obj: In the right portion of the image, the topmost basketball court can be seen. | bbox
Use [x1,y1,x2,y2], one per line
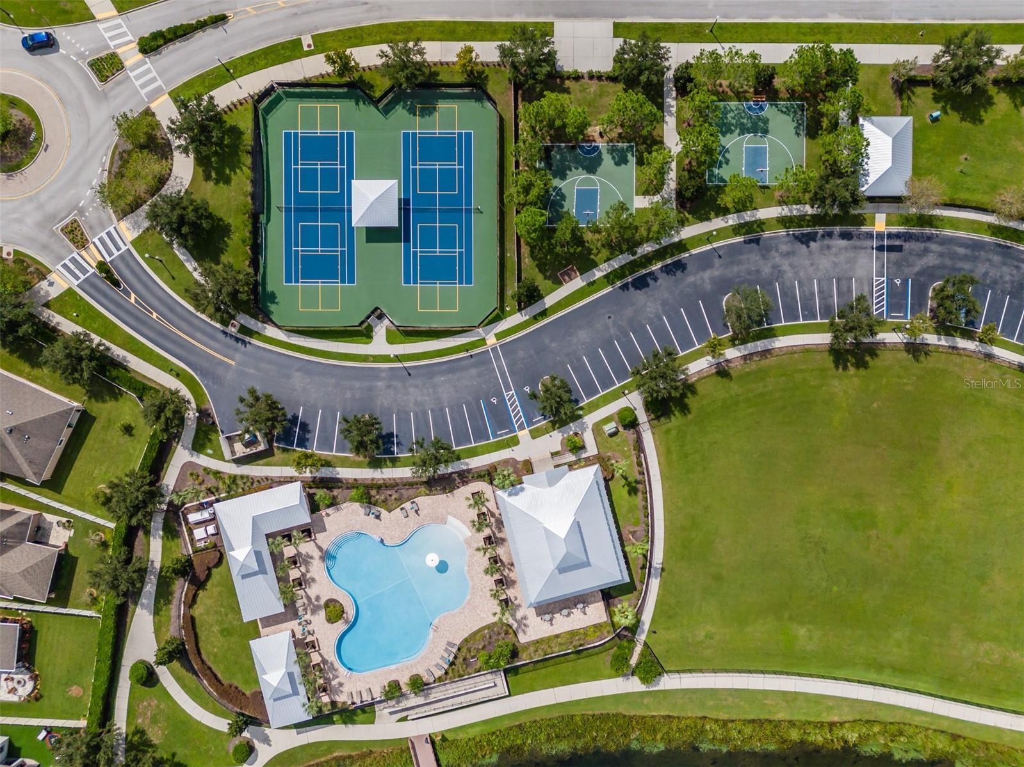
[706,102,805,184]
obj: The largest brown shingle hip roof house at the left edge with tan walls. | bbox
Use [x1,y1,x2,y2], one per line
[0,368,85,485]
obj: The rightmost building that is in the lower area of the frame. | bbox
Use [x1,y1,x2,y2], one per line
[496,464,630,608]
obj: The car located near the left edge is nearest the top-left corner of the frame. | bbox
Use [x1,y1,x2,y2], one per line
[21,31,54,50]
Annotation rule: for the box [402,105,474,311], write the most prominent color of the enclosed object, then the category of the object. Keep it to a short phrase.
blue tennis court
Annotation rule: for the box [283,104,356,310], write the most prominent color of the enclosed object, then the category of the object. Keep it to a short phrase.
blue tennis court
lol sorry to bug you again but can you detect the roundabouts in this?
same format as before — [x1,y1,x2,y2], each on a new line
[0,33,106,234]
